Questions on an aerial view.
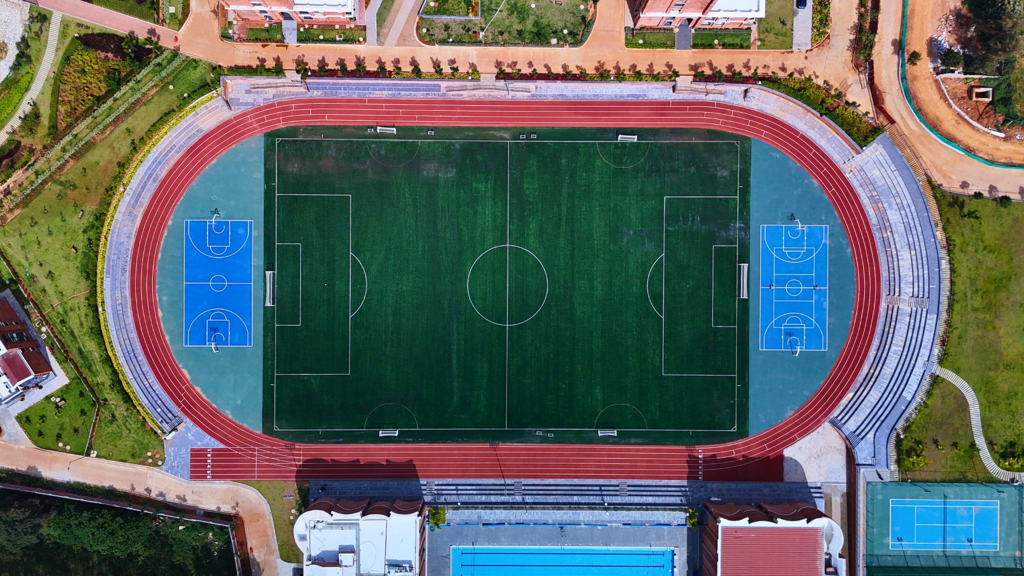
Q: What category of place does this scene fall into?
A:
sports ground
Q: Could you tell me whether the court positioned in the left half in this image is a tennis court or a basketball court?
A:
basketball court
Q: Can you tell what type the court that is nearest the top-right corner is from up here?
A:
basketball court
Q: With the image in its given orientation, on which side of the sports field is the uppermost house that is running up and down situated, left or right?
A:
to its left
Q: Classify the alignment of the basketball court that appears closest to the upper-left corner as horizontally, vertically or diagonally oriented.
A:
vertically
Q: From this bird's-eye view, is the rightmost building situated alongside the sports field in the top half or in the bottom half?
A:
bottom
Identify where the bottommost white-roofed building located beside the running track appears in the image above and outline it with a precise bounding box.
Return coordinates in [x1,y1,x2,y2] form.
[294,496,427,576]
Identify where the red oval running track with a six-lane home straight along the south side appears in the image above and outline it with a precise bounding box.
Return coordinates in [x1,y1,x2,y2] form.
[129,98,881,481]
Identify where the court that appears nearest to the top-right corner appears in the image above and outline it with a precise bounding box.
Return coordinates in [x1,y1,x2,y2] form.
[750,134,858,437]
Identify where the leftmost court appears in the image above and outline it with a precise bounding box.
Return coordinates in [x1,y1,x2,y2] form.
[153,130,263,436]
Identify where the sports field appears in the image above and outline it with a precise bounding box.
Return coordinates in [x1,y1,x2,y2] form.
[263,124,750,445]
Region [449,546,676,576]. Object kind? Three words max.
swimming pool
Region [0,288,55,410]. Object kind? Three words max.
house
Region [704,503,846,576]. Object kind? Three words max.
building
